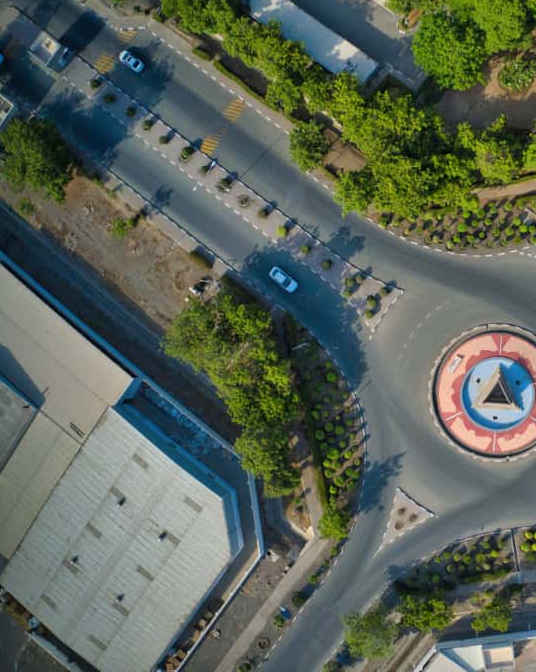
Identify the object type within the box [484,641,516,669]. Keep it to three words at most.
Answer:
building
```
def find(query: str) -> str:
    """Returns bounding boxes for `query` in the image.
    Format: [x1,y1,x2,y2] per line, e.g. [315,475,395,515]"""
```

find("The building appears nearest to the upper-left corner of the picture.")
[30,32,72,72]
